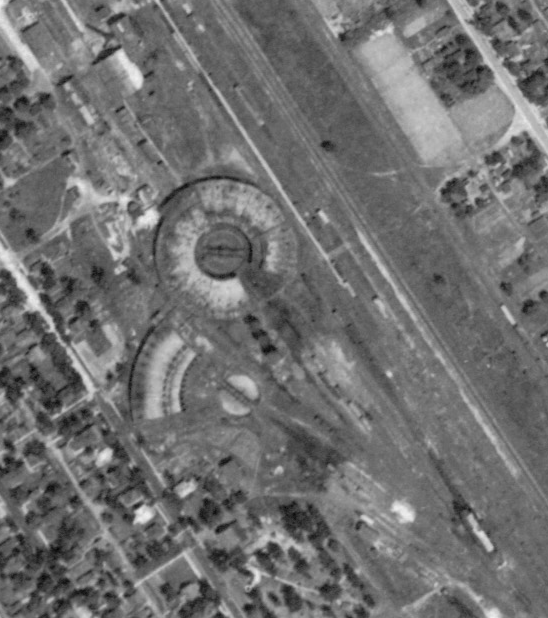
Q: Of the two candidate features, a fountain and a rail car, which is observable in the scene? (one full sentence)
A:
It is a rail car that can be seen here.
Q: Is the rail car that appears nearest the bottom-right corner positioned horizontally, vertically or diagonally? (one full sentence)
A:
In this picture, the rail car that appears nearest the bottom-right corner is oriented diagonally.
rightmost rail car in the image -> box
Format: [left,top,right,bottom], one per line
[500,305,517,325]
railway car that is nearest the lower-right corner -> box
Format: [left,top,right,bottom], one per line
[476,530,495,552]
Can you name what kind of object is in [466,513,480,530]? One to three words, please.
rail car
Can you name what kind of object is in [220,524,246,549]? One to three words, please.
barn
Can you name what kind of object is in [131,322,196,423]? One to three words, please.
shed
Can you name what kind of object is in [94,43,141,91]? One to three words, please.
building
